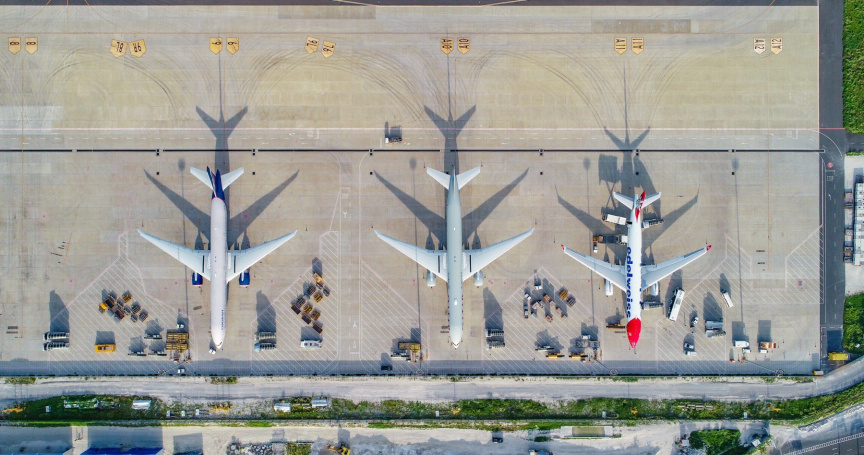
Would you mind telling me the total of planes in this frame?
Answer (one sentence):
My tally gives 3 planes in this view.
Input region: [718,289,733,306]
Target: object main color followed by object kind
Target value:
white vehicle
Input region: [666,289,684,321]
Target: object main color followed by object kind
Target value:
white vehicle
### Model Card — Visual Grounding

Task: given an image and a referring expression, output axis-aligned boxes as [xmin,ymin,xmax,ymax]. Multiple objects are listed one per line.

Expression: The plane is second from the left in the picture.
[375,169,534,349]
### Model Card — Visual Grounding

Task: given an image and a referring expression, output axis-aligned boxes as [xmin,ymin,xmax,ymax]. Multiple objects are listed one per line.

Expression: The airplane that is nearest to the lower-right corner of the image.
[561,191,715,348]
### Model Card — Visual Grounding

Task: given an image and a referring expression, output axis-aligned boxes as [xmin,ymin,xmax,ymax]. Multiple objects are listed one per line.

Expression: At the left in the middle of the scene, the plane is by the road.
[136,167,295,349]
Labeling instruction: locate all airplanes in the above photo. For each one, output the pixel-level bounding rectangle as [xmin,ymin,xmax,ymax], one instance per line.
[561,191,715,348]
[375,169,534,349]
[136,167,295,349]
